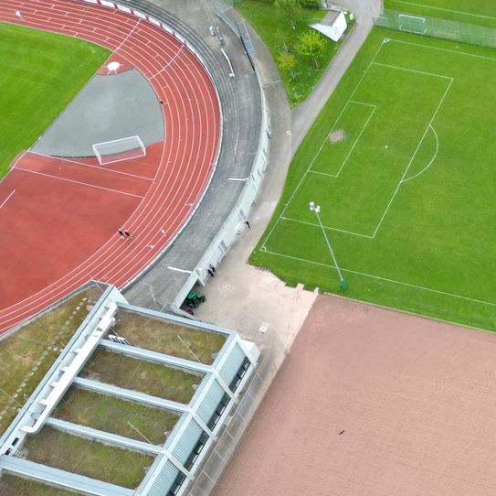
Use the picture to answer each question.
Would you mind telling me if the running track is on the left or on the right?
left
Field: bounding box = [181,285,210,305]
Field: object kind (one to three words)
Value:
work vehicle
